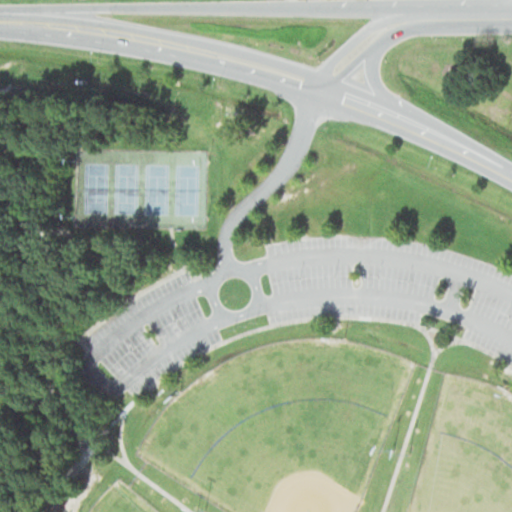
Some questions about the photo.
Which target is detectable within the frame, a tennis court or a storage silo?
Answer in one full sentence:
The image shows a tennis court.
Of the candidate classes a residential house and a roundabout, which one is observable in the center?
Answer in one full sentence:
What appears in the center is a roundabout.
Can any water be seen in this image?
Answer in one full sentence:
No, the scene doesn't show any water.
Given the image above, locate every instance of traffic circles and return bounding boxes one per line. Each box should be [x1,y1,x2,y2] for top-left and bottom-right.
[208,266,263,322]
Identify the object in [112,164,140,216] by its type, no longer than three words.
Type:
tennis court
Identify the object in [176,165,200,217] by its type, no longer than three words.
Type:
tennis court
